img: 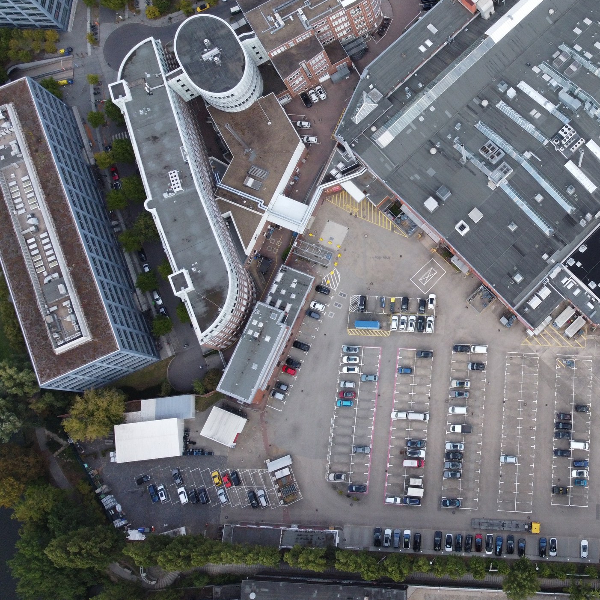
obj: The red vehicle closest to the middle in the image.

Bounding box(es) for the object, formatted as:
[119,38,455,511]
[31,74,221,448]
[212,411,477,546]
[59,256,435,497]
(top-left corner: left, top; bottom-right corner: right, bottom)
[281,364,298,376]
